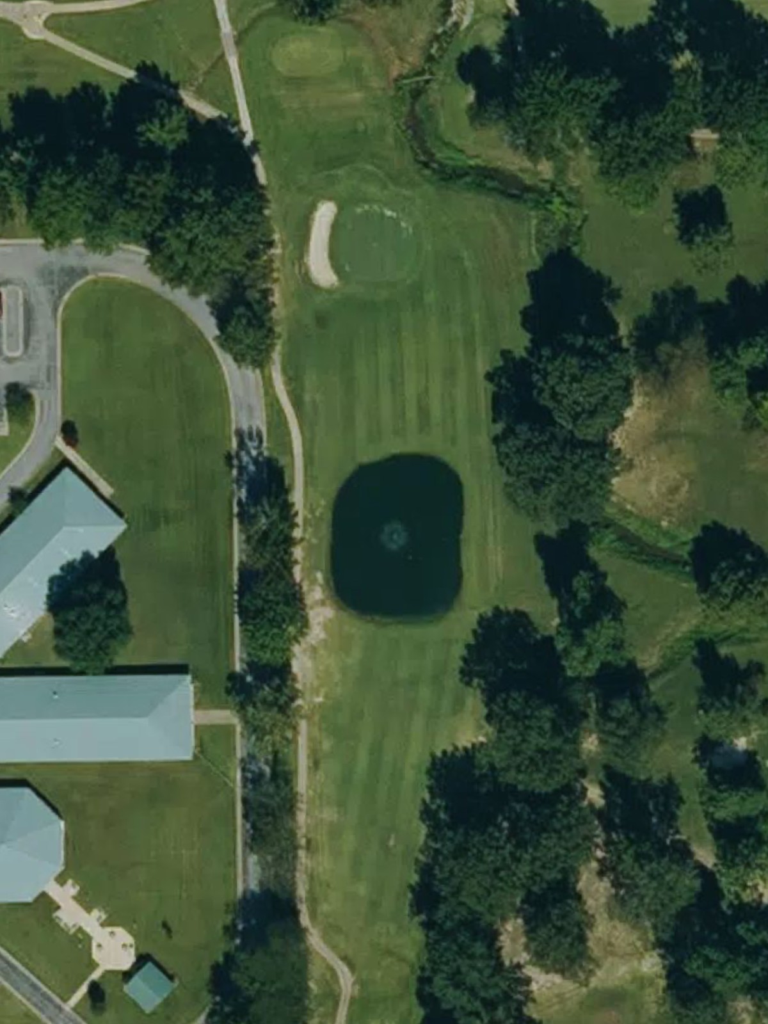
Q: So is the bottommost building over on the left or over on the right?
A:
left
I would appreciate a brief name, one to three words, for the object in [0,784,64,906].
building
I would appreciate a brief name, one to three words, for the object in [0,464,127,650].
building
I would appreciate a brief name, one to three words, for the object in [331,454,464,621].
pond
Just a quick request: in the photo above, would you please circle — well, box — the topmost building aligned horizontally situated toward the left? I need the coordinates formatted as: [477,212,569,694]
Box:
[0,674,193,760]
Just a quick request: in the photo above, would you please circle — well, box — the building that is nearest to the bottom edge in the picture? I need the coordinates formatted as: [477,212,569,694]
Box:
[124,961,176,1013]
